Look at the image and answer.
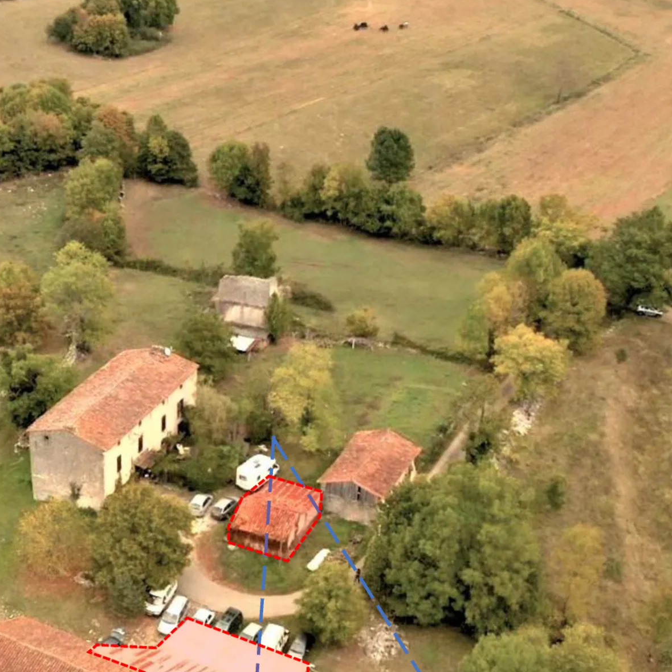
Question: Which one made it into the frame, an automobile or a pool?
automobile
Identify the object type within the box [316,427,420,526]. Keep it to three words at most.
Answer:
shed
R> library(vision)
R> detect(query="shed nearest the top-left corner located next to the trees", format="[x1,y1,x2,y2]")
[219,275,277,337]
